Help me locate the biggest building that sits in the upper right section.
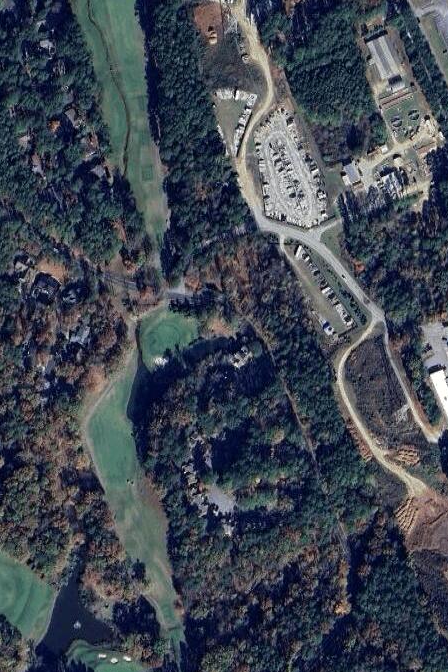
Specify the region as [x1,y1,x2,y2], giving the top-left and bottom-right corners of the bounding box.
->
[367,34,401,80]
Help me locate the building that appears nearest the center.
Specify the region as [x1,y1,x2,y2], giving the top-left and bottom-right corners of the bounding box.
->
[224,344,251,368]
